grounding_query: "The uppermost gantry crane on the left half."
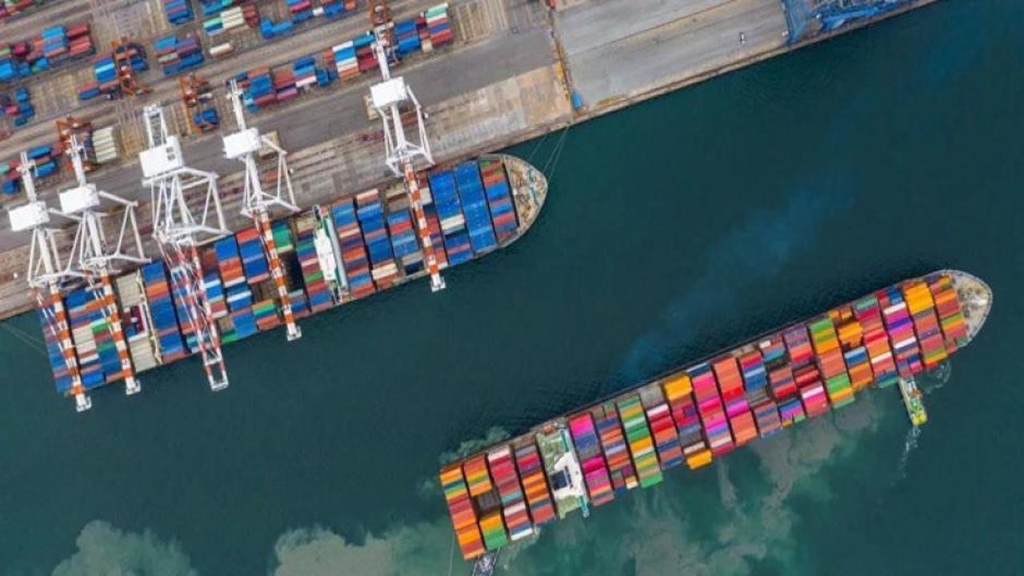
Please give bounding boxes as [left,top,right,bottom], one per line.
[369,0,408,61]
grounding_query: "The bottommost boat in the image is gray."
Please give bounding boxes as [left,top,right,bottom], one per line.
[475,549,497,576]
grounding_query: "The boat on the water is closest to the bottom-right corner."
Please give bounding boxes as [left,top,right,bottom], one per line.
[898,372,927,427]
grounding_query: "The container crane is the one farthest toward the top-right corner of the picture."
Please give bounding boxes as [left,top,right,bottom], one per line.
[780,0,853,44]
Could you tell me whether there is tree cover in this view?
No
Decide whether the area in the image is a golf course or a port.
port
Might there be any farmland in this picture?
No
